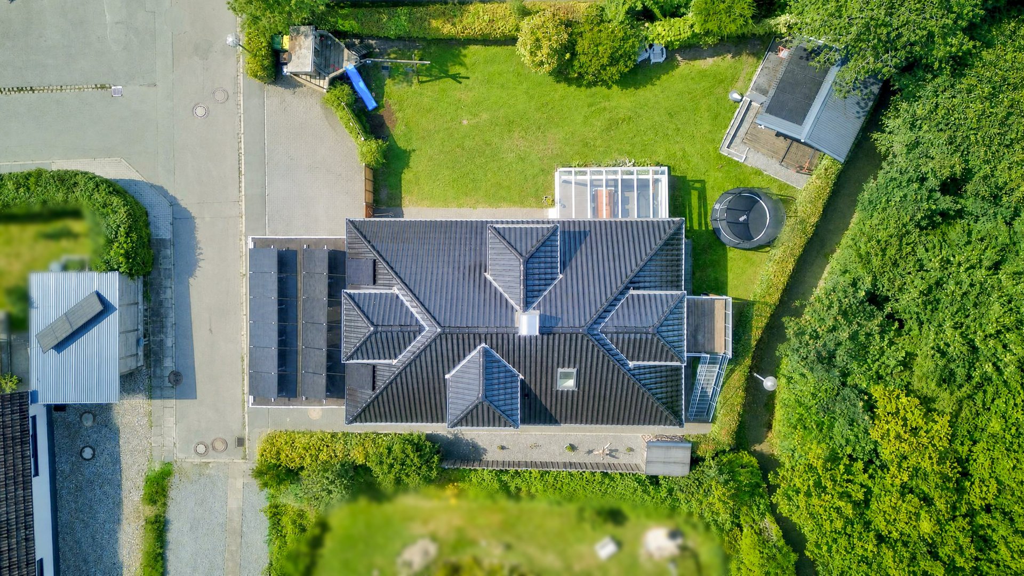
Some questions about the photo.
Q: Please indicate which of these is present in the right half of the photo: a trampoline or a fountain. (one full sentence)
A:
Visible in the right half of the photo is a trampoline.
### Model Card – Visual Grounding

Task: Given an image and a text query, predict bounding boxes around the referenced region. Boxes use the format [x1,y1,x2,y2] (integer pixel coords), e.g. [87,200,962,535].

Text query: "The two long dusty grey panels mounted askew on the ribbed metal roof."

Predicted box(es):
[36,291,108,355]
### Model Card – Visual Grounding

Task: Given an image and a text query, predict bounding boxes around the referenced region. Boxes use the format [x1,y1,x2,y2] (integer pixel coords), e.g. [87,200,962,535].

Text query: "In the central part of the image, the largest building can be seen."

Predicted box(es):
[341,216,690,430]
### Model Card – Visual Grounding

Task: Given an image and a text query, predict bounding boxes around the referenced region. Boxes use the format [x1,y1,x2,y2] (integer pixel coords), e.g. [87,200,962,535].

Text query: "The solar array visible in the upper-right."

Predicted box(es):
[769,48,826,127]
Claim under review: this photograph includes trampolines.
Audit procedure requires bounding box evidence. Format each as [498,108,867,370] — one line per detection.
[709,185,784,249]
